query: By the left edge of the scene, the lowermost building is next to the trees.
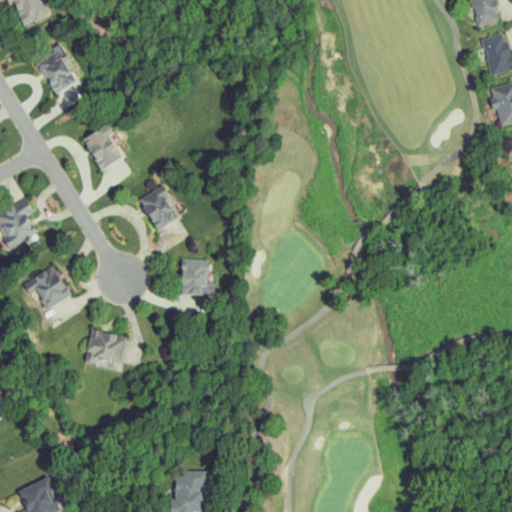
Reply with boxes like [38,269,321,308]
[17,476,64,512]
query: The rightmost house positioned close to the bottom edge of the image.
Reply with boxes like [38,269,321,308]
[170,472,206,512]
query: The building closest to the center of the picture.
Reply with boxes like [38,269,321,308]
[180,258,214,296]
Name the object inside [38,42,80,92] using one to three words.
house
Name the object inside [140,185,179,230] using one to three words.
house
